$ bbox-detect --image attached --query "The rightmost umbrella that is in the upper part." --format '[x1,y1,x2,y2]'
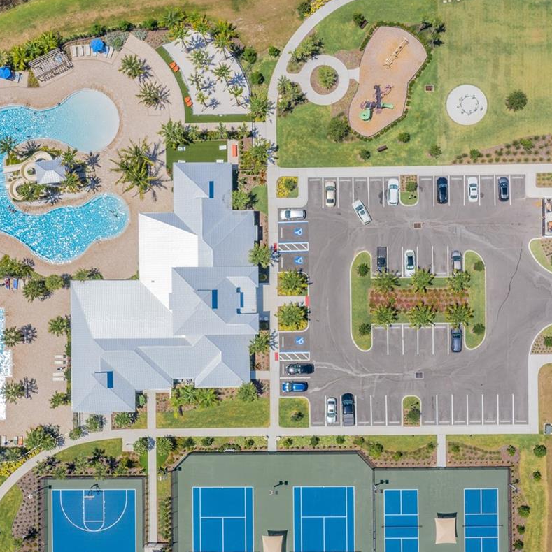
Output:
[90,37,104,51]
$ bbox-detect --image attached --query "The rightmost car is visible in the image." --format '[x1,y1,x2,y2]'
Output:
[497,176,510,202]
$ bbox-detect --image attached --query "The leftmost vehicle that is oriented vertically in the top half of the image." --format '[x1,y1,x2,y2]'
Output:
[325,180,337,207]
